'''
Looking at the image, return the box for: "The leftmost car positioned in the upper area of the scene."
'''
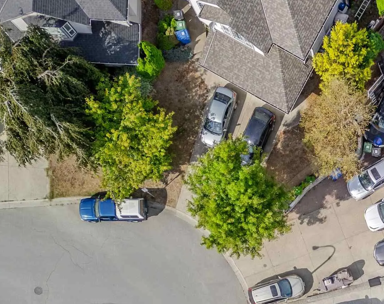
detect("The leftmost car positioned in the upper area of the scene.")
[198,86,239,149]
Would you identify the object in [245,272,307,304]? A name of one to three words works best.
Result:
car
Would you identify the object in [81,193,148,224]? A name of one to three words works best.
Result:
truck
